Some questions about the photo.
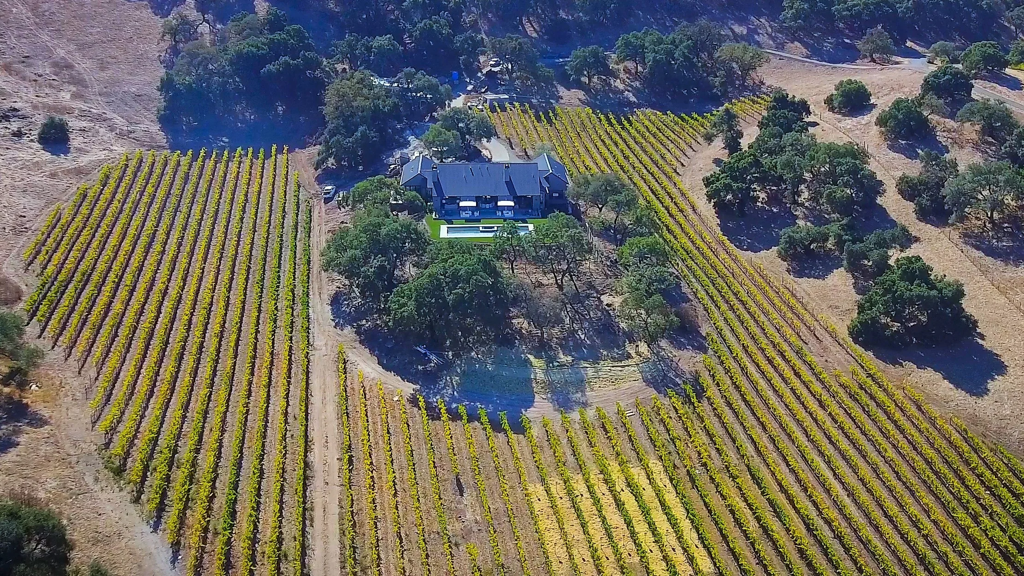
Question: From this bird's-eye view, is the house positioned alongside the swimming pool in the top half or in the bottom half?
top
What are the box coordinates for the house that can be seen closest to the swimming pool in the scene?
[397,156,572,217]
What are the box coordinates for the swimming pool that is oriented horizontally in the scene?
[439,222,534,238]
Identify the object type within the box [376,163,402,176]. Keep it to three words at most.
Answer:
vehicle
